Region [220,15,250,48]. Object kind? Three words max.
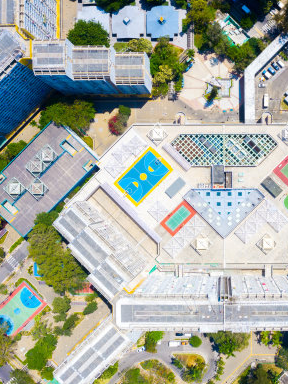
building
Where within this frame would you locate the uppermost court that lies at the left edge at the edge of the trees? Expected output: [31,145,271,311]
[0,281,47,337]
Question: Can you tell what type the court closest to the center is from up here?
basketball court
